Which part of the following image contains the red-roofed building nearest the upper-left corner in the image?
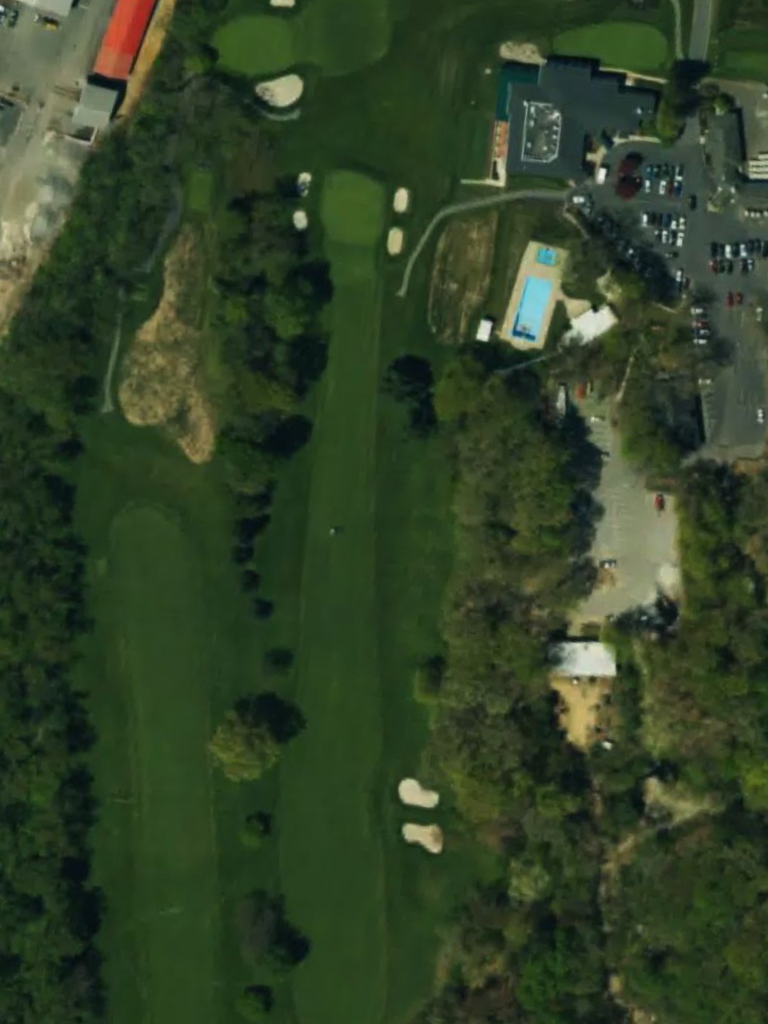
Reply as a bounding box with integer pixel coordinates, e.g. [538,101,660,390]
[93,0,156,81]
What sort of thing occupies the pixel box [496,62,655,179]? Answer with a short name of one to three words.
building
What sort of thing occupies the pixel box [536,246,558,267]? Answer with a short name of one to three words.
swimming pool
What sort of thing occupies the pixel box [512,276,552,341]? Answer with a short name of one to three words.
swimming pool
